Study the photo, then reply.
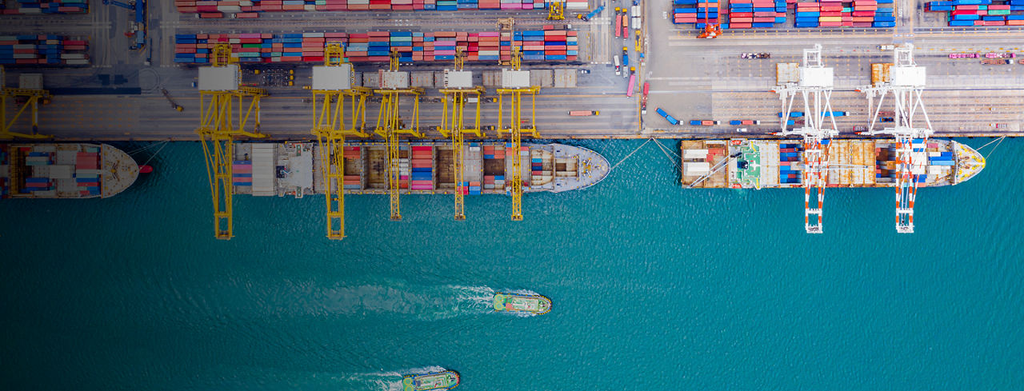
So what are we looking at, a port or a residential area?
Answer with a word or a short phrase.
port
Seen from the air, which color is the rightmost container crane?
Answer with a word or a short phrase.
white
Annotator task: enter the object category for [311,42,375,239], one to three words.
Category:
container crane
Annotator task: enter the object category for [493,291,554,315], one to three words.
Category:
boat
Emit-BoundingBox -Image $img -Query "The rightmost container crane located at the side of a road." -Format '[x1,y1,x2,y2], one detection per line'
[851,38,929,233]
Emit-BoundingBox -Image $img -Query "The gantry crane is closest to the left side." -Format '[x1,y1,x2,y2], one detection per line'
[0,65,45,151]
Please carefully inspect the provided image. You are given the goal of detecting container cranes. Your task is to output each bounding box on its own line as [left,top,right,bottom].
[545,0,566,27]
[766,38,834,233]
[493,47,546,220]
[311,42,375,239]
[0,65,45,151]
[851,38,929,233]
[198,42,269,239]
[697,0,721,43]
[496,19,516,70]
[439,51,491,219]
[374,51,430,220]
